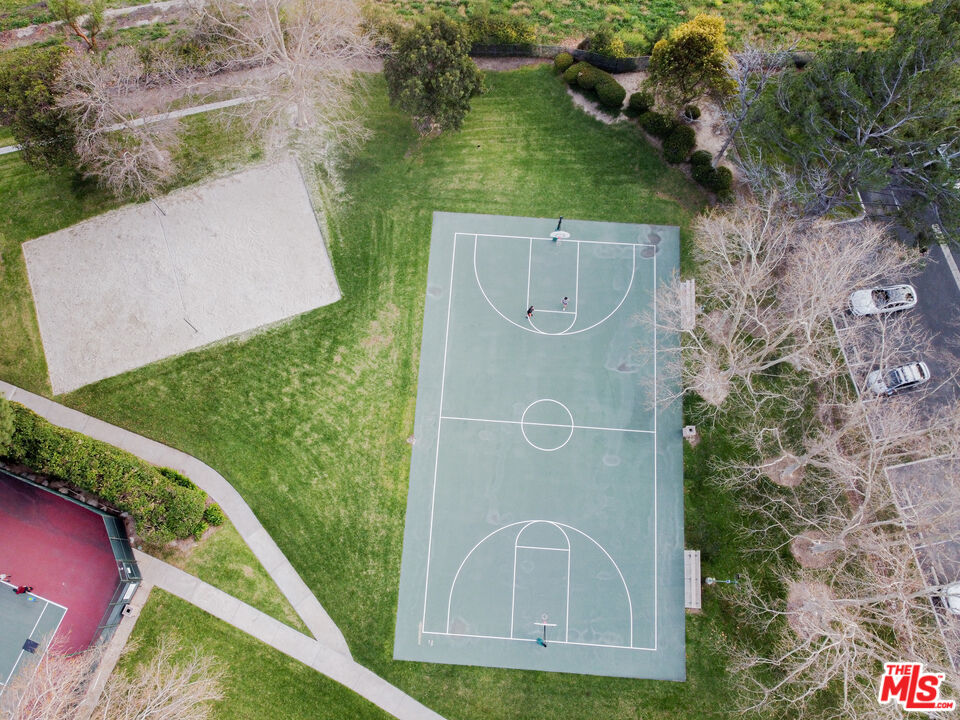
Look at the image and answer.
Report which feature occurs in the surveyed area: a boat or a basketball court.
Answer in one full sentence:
I can see a basketball court in this picture.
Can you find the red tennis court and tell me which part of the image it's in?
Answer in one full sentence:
The red tennis court is located in the bottom left region of the scene.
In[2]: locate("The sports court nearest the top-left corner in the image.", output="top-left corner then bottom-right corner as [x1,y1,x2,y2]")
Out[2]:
[22,160,341,394]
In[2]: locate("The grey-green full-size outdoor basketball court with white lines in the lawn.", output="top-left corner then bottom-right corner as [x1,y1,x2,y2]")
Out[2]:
[393,211,685,681]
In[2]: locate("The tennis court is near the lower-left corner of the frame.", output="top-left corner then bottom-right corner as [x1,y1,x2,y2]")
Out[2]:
[0,461,130,720]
